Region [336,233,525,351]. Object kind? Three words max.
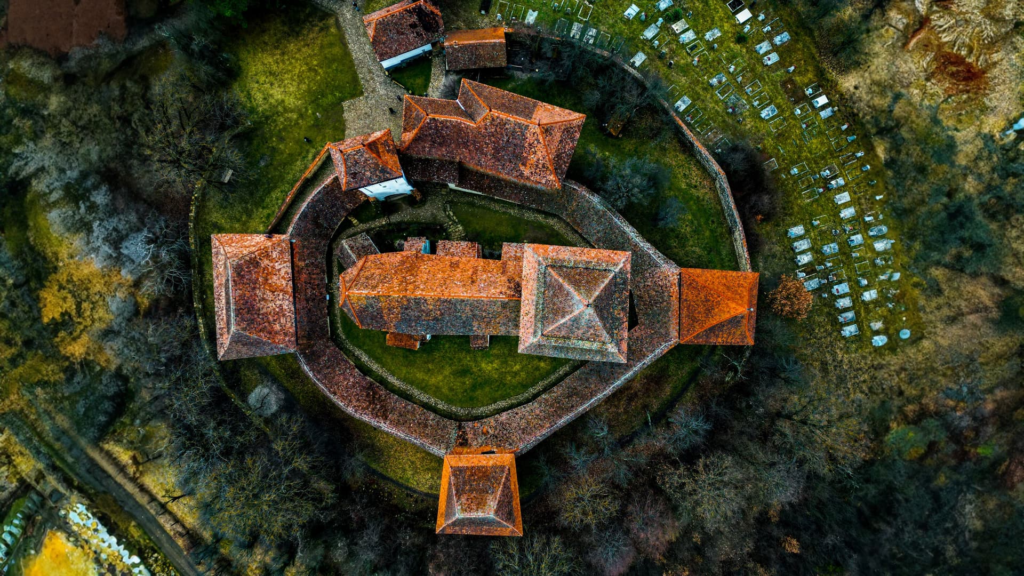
building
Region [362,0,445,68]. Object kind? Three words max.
house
